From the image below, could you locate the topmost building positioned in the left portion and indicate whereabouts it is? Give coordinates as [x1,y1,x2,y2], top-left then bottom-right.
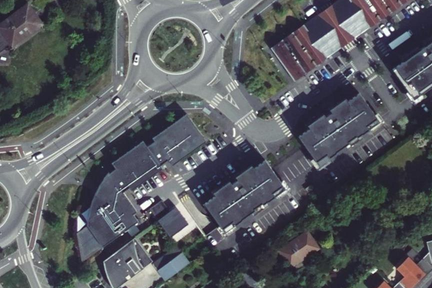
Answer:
[0,2,44,50]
